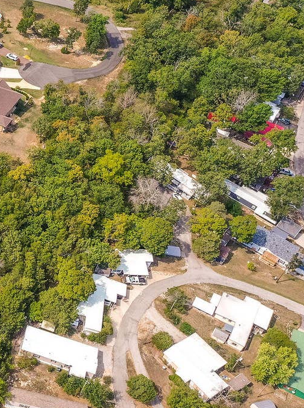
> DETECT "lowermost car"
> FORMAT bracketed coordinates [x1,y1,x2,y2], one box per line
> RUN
[70,316,83,332]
